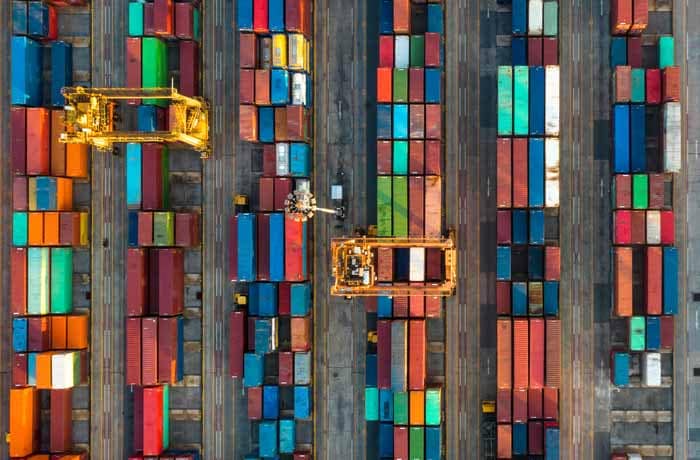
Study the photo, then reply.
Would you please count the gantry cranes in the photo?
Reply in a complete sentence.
The count of gantry cranes comes to 2.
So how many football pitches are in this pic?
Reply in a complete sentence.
Not a single football pitch can be seen.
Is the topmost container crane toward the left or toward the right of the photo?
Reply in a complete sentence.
The topmost container crane is on the left side of the image.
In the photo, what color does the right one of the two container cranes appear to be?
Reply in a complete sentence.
The color of the right one of the two container cranes is orange.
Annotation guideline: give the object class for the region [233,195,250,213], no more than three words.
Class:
vehicle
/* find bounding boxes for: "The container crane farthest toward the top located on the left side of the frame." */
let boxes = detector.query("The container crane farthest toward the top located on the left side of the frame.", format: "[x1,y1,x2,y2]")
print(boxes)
[58,72,209,159]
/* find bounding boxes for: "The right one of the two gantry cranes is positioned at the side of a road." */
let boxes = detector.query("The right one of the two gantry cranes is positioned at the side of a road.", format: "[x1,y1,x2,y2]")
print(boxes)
[333,224,457,298]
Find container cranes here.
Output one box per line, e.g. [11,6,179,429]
[333,224,457,298]
[58,72,209,159]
